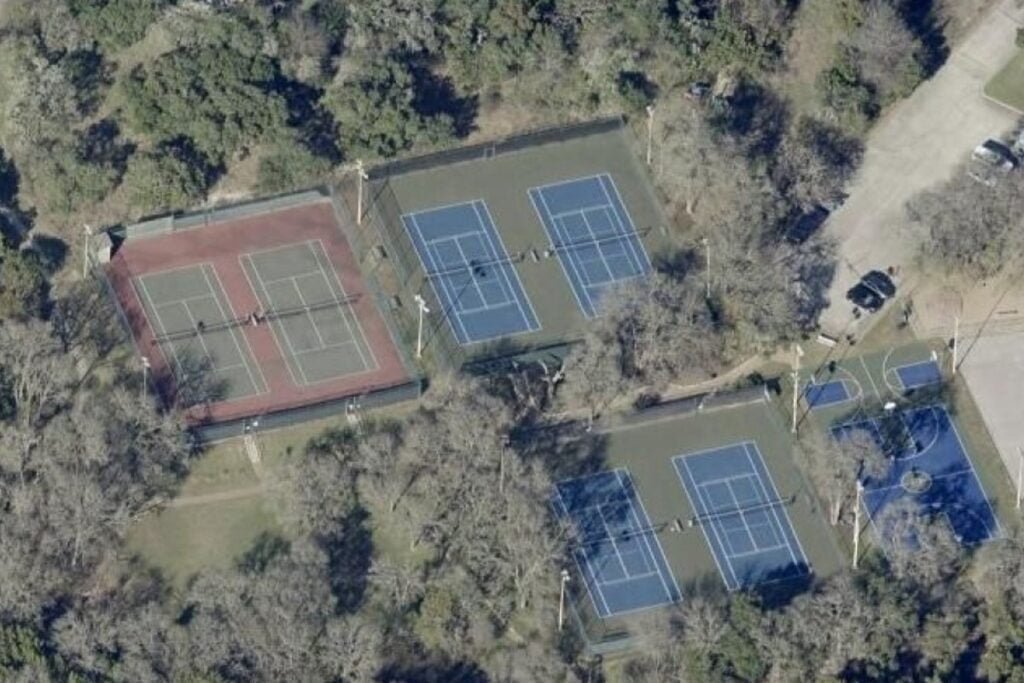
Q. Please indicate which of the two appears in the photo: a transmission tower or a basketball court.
basketball court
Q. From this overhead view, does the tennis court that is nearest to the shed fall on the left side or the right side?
left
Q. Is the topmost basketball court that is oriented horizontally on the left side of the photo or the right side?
right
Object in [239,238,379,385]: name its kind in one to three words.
tennis court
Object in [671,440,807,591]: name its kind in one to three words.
tennis court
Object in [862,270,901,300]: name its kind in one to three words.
car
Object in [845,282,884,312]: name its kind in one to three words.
car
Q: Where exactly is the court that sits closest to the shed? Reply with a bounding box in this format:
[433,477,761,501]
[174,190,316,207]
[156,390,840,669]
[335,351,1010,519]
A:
[130,262,269,409]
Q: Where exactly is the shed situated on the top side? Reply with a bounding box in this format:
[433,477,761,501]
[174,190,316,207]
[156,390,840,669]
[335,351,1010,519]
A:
[94,227,116,261]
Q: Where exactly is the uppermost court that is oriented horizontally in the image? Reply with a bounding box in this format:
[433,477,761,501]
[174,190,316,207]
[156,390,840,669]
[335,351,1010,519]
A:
[791,346,954,425]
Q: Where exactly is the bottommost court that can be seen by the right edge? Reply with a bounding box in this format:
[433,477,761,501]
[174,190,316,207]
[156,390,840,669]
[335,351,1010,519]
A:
[830,405,1003,555]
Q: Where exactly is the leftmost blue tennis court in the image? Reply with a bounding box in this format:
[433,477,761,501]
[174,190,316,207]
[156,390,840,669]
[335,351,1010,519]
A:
[402,199,542,345]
